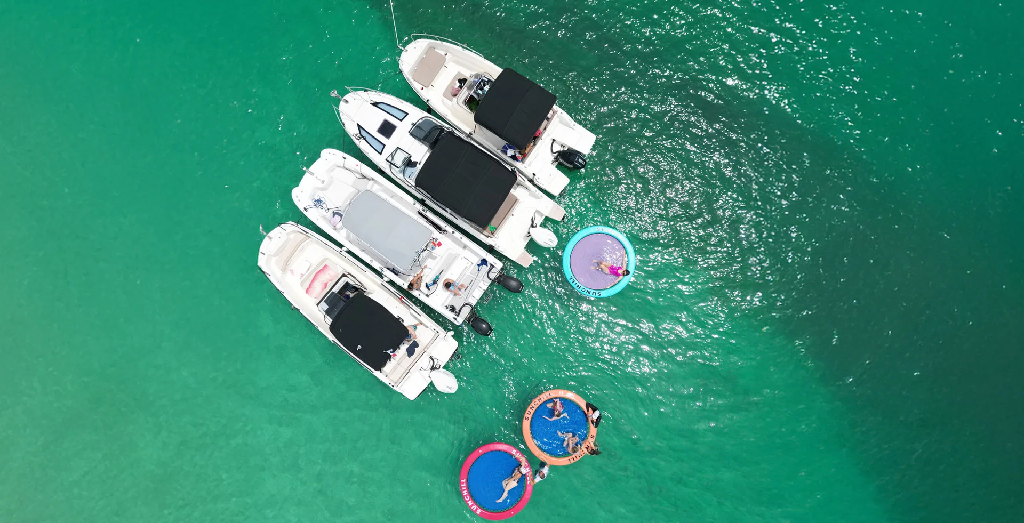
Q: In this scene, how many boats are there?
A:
4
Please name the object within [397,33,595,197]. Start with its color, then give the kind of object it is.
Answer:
white boat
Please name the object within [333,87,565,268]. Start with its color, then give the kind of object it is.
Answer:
white boat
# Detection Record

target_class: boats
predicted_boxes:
[397,33,595,197]
[333,87,565,268]
[258,221,461,400]
[292,148,525,335]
